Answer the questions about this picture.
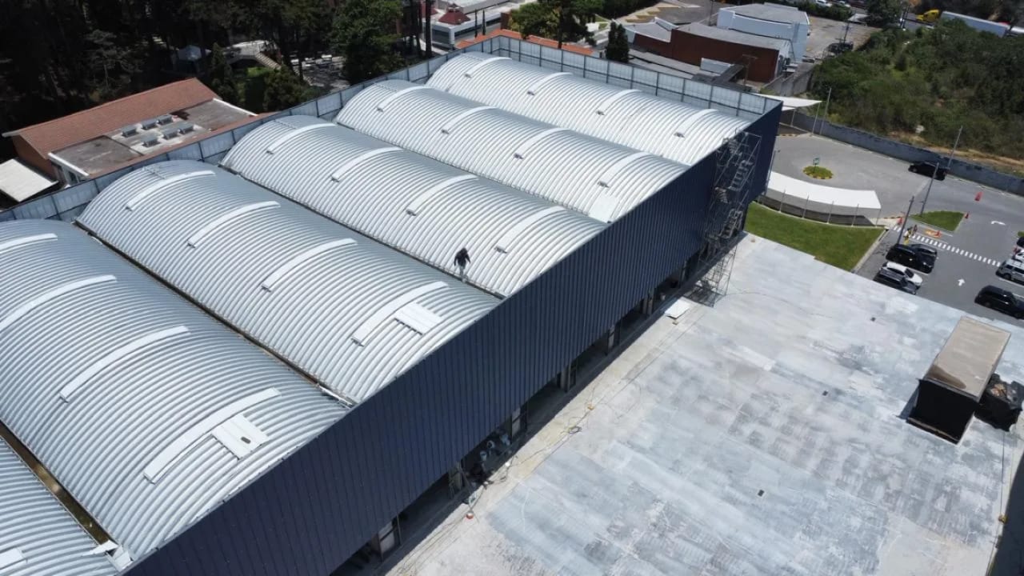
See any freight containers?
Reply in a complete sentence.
Yes, the frame does contain a freight container.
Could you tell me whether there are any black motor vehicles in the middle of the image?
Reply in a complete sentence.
No, I see no black motor vehicle in the middle of the image.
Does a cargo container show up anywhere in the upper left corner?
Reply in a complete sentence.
No, I see no cargo container in the upper left corner.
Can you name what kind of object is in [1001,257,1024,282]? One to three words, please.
vehicle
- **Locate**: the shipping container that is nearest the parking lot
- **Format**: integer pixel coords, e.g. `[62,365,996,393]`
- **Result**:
[897,315,1006,442]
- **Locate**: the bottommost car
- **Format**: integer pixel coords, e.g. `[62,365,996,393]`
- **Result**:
[975,280,1024,315]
